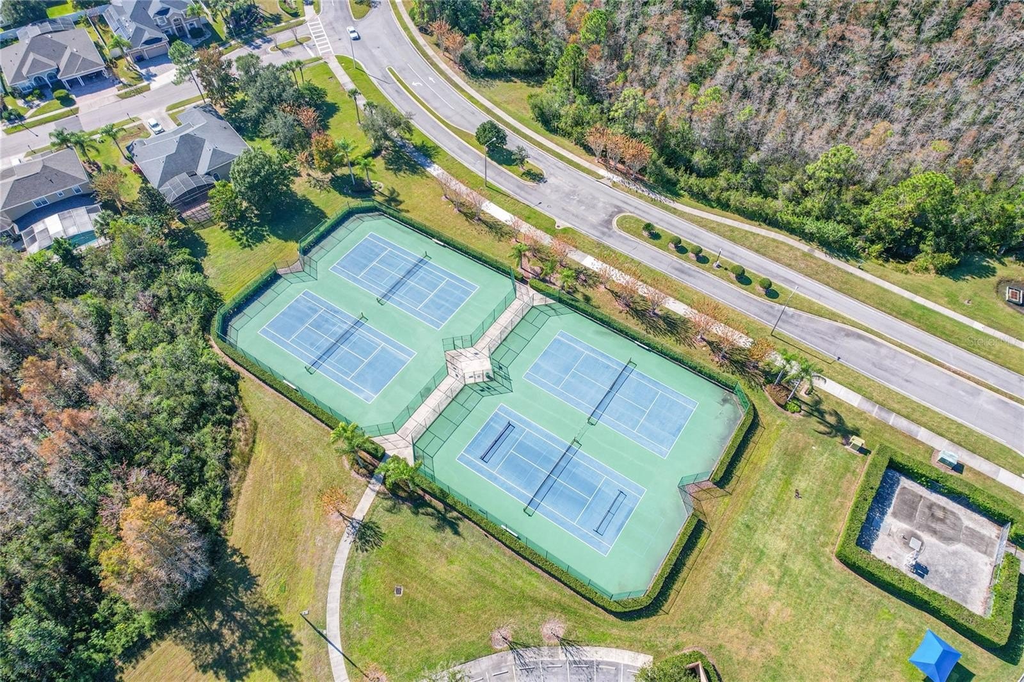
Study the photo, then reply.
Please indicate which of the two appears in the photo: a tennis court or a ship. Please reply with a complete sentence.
The one in the frame is a tennis court.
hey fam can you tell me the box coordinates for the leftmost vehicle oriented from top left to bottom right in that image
[146,116,164,134]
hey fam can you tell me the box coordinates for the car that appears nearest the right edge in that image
[347,28,359,40]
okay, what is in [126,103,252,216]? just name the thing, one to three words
house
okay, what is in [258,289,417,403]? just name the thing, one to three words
tennis court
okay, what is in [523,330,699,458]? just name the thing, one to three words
tennis court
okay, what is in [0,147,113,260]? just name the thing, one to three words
house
